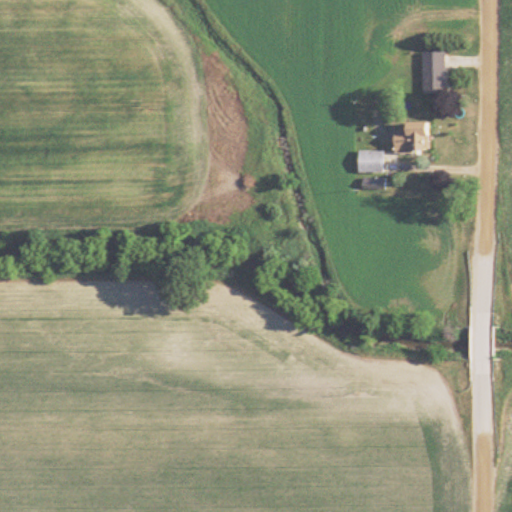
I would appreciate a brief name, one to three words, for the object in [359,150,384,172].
shed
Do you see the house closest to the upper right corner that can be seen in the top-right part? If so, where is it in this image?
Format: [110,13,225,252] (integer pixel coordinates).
[422,52,445,92]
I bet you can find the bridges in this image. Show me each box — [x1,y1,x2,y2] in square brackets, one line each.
[464,327,496,359]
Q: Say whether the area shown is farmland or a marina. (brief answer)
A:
farmland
